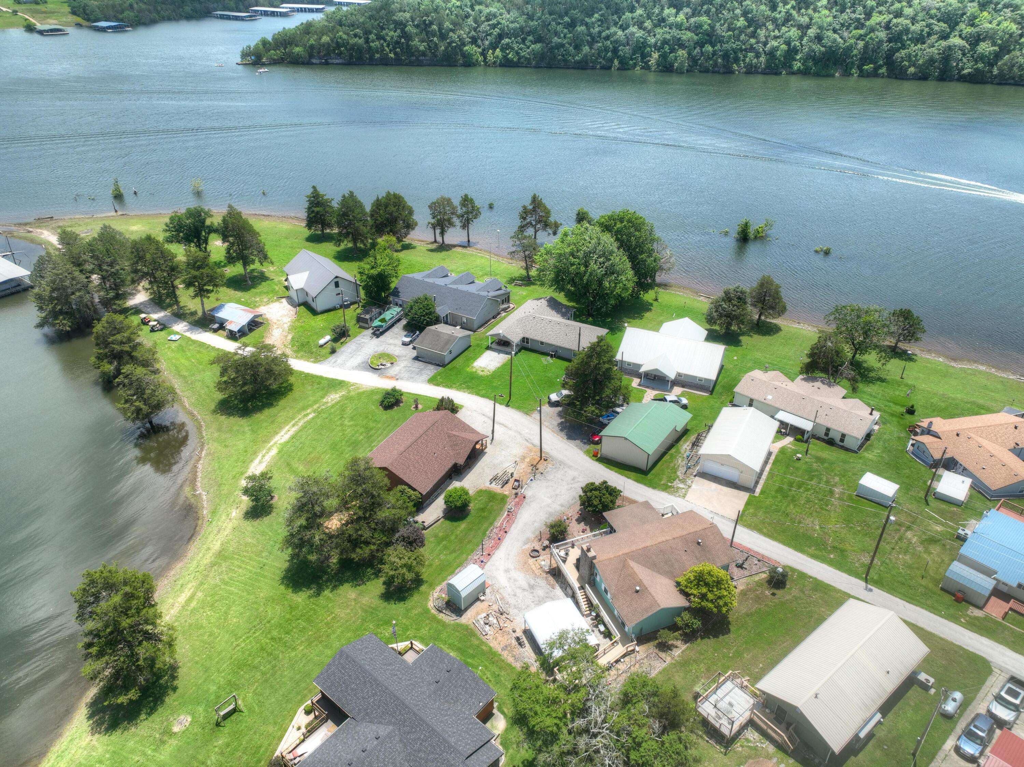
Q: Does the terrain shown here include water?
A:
Yes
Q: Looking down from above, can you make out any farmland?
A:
No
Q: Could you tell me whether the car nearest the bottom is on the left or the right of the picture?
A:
right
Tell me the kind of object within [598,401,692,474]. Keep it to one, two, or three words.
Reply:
barn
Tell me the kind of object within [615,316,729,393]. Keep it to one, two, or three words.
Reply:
house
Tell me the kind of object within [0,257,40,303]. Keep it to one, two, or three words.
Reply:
building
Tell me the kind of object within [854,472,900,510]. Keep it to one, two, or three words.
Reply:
shed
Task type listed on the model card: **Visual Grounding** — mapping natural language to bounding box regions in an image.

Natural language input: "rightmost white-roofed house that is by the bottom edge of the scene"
[753,600,931,767]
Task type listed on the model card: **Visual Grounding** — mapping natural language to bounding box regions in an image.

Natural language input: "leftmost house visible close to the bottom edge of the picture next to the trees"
[280,634,506,767]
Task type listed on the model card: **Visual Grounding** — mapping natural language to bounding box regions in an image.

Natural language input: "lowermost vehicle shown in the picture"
[959,711,999,762]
